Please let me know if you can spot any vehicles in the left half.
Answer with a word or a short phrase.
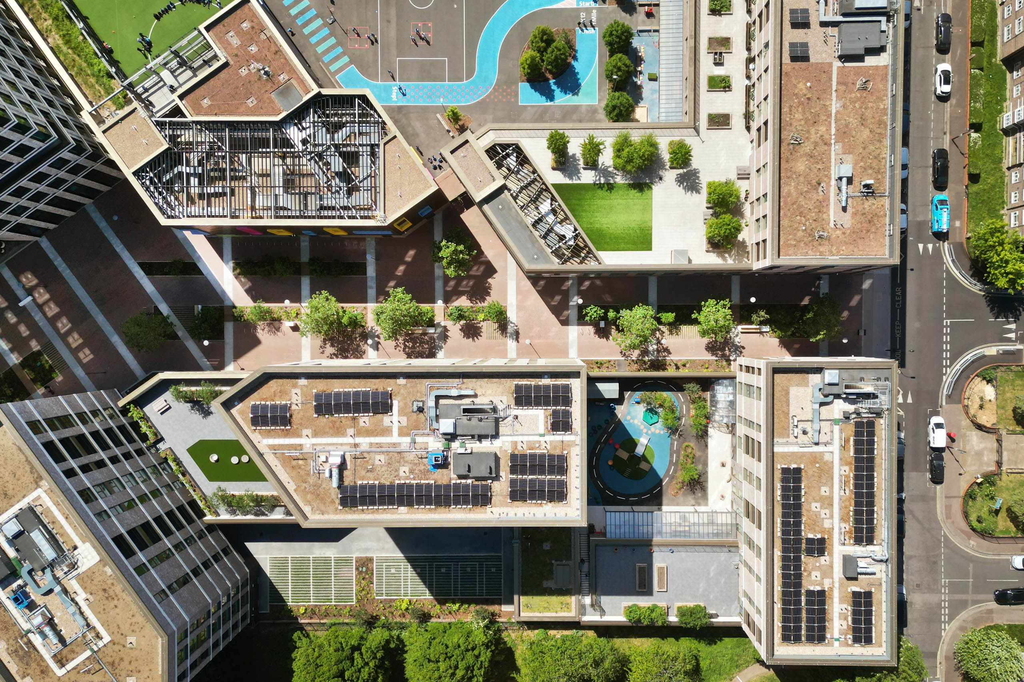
No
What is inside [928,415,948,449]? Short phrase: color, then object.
white vehicle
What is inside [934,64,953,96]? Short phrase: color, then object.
white car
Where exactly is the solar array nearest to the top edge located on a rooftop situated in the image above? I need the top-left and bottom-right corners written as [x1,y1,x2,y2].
[788,7,810,23]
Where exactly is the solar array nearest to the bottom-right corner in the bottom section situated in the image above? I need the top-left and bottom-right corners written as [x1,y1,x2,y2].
[847,588,875,645]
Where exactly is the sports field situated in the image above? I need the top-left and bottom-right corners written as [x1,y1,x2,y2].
[67,0,235,87]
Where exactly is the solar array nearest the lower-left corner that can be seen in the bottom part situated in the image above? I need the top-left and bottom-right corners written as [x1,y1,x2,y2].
[250,400,292,430]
